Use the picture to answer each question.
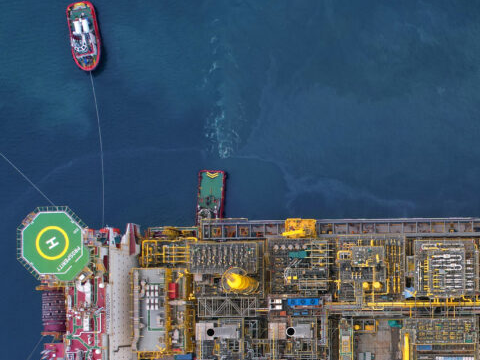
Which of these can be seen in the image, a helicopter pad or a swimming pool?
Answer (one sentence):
It is a helicopter pad that can be seen here.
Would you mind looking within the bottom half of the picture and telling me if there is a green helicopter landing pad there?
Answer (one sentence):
Yes, there is a green helicopter landing pad within the bottom half of the picture.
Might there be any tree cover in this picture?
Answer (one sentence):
No, there's no tree cover in this view.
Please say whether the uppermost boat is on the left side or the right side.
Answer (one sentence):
It is on the left.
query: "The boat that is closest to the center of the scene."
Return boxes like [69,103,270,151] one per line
[195,170,225,229]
